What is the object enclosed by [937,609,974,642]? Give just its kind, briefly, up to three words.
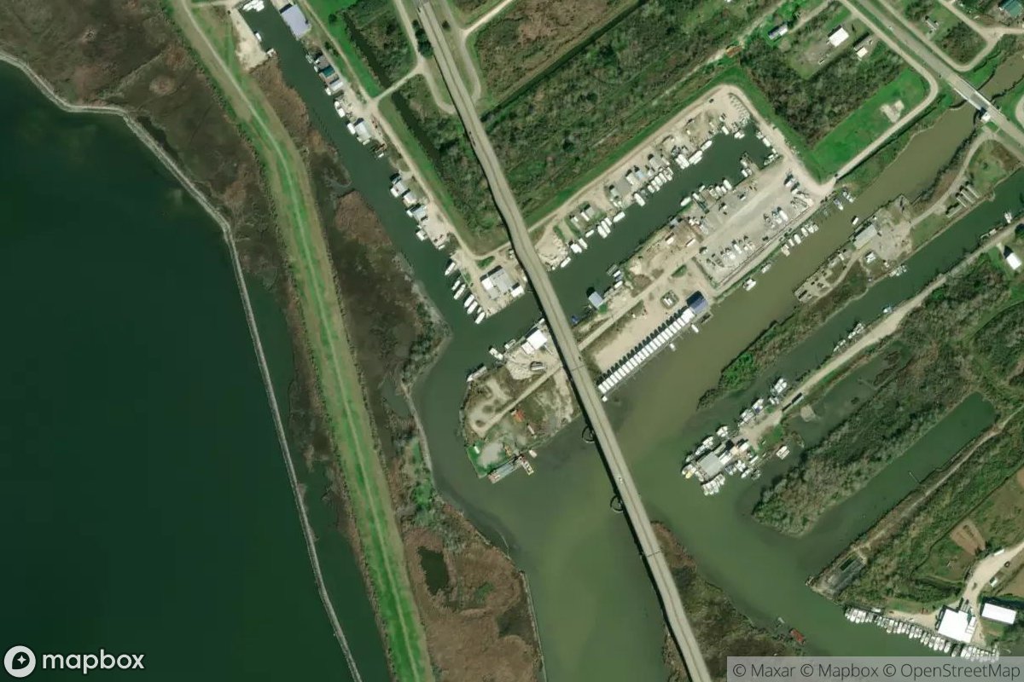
building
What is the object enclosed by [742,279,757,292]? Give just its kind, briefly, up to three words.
boat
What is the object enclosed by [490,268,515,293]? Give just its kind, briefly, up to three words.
shed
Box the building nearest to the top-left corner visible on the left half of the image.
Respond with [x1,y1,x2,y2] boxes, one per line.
[281,4,309,36]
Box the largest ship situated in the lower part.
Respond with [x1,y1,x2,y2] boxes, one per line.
[489,458,521,480]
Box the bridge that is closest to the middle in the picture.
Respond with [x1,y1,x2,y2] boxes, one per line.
[415,0,711,682]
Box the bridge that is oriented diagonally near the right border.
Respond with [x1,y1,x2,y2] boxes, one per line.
[944,67,1008,127]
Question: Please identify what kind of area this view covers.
port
